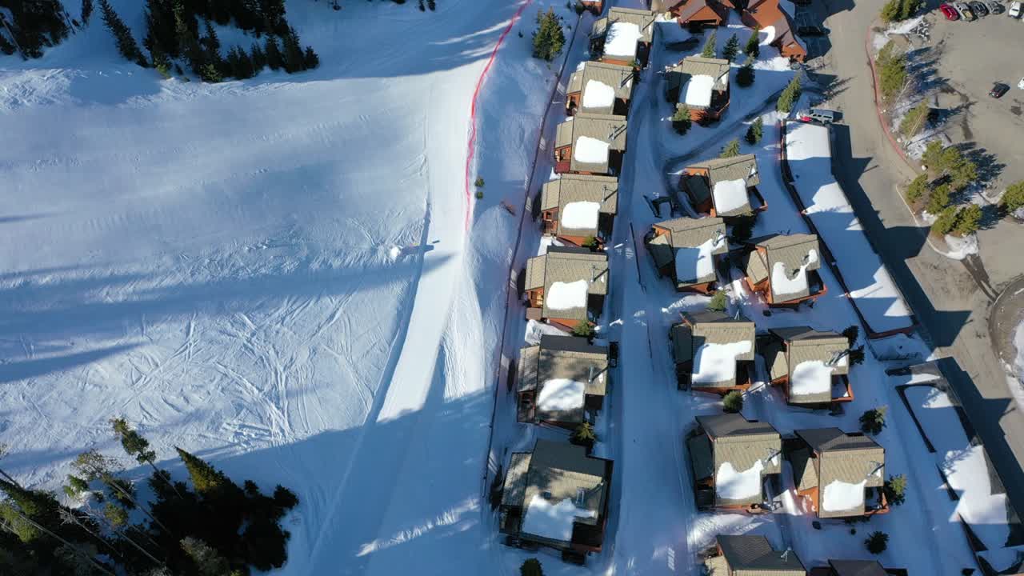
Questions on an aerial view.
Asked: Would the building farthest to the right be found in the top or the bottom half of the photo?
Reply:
bottom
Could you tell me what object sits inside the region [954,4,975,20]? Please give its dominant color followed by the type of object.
gray vehicle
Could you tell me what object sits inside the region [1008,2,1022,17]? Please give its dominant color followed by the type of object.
white vehicle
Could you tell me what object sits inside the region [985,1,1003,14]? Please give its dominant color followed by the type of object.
gray vehicle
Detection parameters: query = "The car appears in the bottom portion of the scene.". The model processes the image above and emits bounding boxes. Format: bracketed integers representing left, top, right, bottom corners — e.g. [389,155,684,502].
[606,342,621,369]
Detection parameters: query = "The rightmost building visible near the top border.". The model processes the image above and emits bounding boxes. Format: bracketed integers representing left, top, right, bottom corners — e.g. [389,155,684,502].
[726,0,826,70]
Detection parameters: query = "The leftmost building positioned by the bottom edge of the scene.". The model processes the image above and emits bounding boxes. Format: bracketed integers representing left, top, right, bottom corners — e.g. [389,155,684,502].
[495,442,605,554]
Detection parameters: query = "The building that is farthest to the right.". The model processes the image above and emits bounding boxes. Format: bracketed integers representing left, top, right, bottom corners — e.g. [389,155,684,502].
[882,358,1024,576]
